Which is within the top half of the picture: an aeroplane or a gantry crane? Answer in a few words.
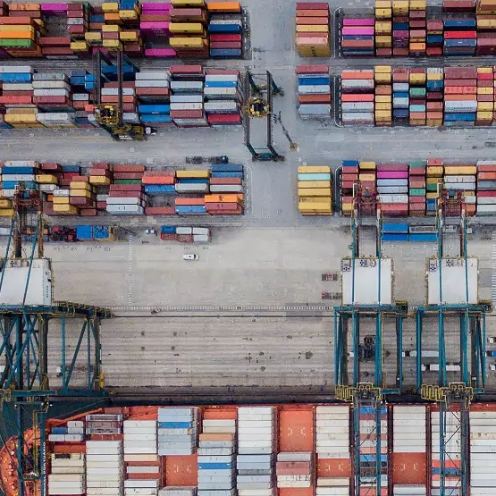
gantry crane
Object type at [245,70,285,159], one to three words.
container crane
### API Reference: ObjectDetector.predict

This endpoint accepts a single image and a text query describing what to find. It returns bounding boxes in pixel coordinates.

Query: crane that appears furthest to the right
[414,186,494,496]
